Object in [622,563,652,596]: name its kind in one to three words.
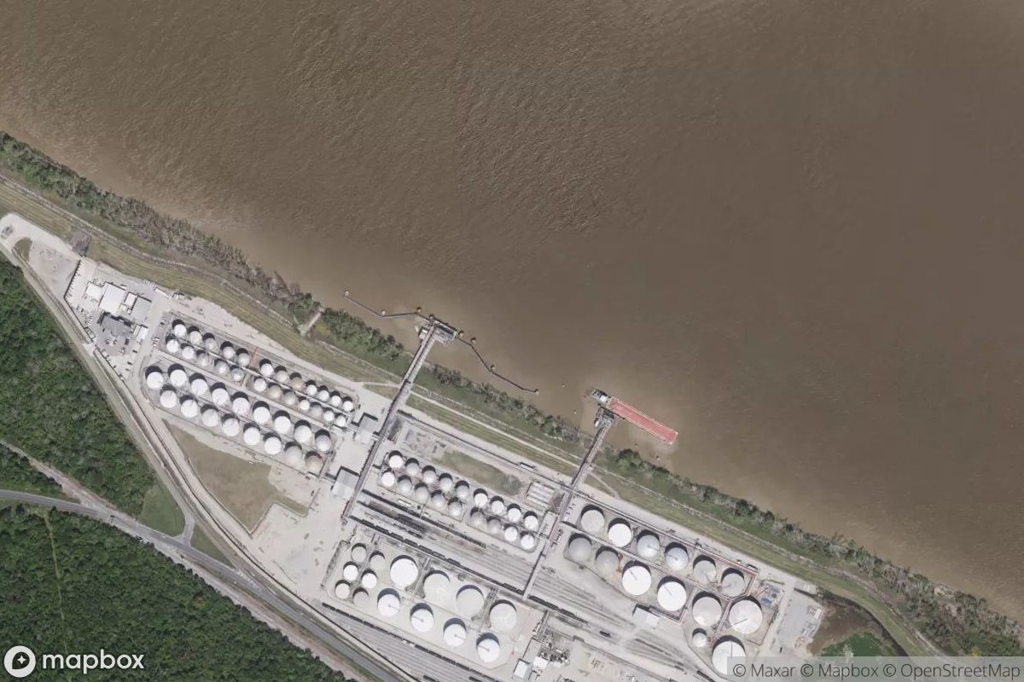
storage tank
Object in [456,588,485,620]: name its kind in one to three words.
storage tank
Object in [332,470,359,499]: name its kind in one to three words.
building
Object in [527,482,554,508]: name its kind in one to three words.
shed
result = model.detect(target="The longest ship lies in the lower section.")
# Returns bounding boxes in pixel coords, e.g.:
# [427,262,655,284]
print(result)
[606,397,677,444]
